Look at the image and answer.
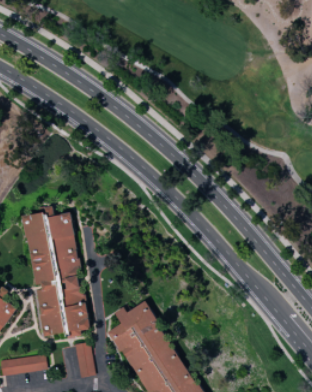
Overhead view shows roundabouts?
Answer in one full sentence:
No, there is no roundabout in the image.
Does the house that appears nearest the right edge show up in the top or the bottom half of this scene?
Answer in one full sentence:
The house that appears nearest the right edge sits in the bottom half of the picture.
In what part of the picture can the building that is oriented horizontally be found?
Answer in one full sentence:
The building that is oriented horizontally is in the bottom left part of the image.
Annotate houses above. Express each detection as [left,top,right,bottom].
[110,302,201,392]
[22,206,90,338]
[0,287,15,337]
